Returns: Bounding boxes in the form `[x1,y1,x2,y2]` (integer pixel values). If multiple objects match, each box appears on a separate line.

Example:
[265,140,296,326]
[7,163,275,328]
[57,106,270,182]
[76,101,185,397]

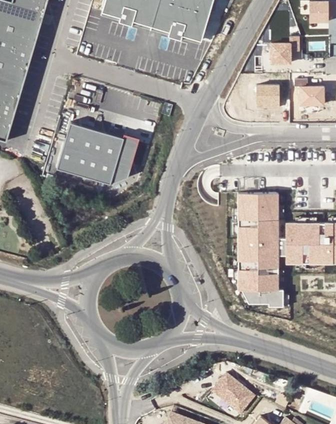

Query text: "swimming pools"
[306,40,326,52]
[299,387,336,424]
